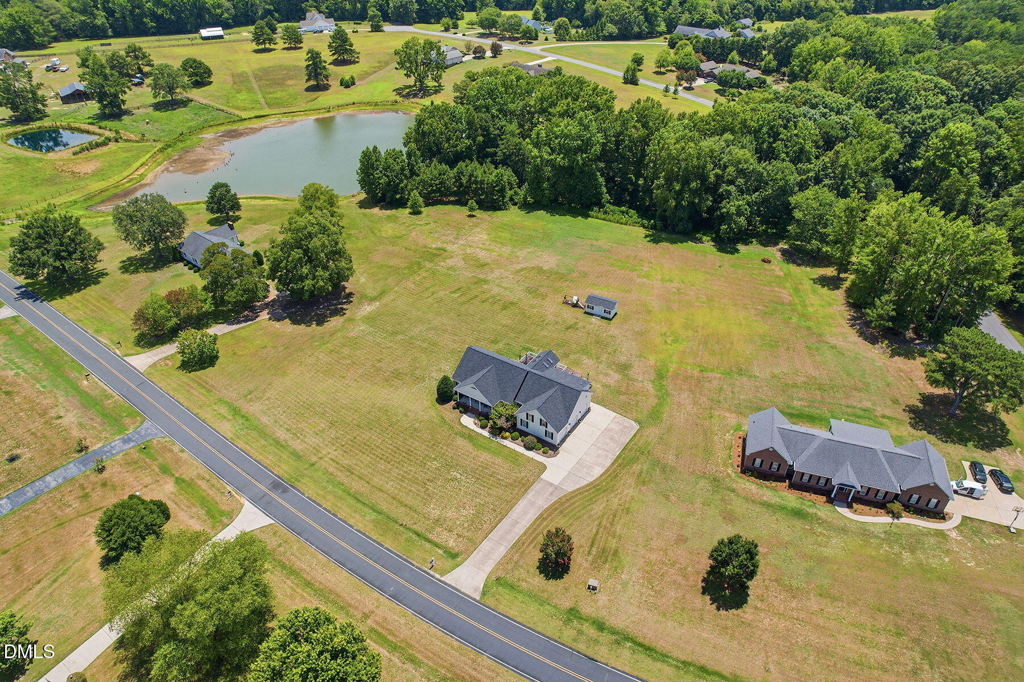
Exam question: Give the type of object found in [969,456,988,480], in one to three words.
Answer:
car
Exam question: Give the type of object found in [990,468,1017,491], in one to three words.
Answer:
car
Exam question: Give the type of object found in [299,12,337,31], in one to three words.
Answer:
house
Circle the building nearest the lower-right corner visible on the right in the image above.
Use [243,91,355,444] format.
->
[745,407,955,512]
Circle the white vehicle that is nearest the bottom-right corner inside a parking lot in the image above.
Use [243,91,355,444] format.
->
[953,474,999,496]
